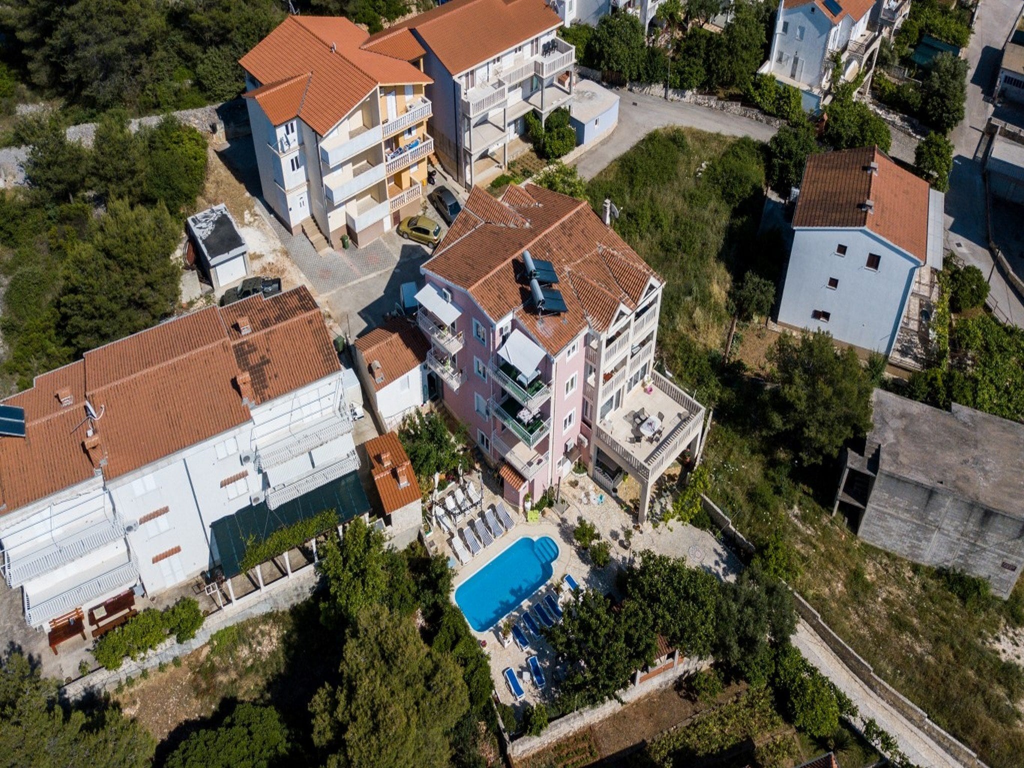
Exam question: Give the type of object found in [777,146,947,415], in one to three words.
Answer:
house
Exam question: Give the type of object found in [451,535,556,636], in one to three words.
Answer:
swimming pool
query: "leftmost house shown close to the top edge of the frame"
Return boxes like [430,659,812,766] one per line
[236,1,447,261]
